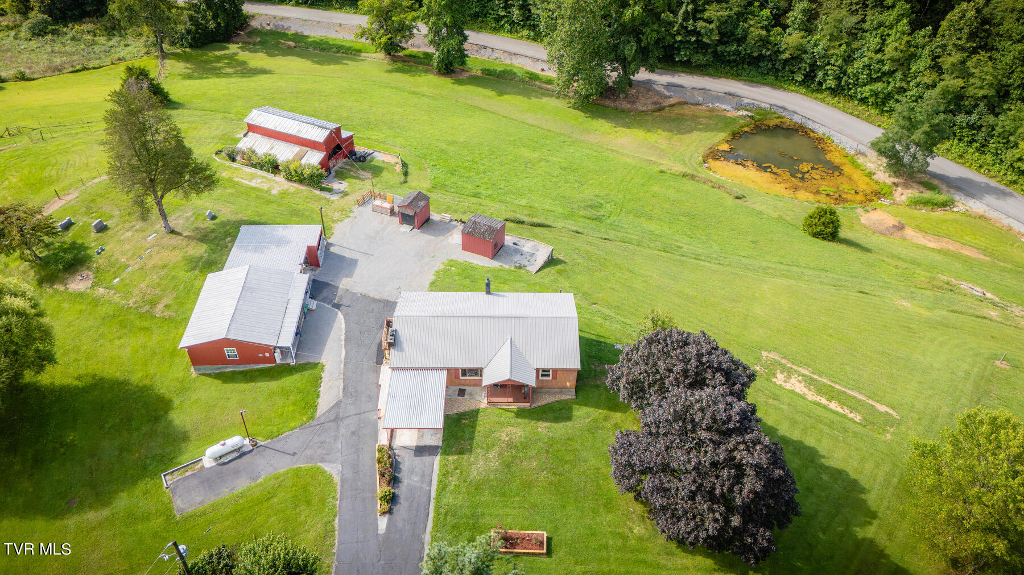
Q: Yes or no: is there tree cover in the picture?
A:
Yes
